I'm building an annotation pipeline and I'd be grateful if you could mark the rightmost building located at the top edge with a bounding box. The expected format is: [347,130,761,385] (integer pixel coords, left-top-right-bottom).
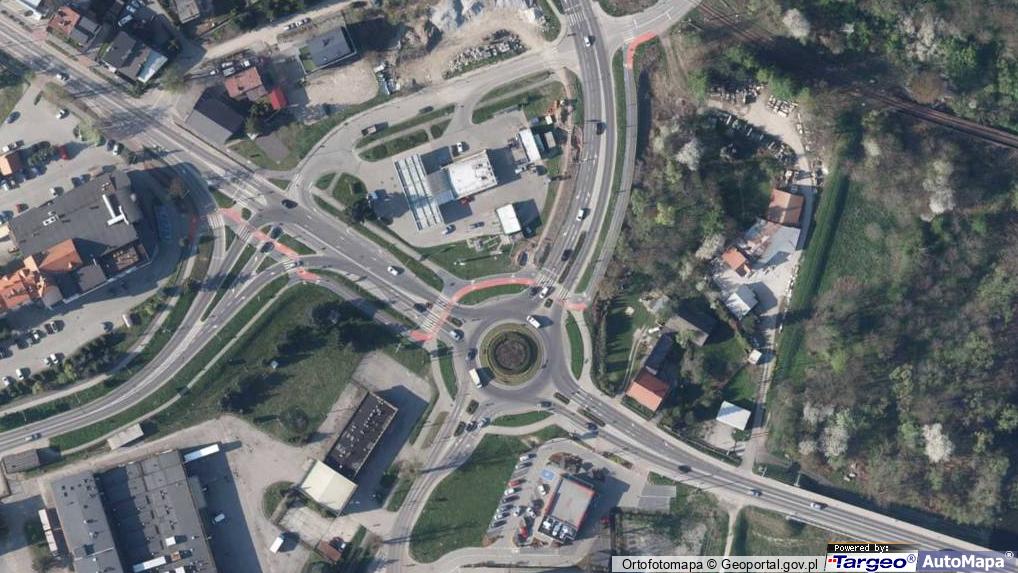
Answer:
[299,27,357,76]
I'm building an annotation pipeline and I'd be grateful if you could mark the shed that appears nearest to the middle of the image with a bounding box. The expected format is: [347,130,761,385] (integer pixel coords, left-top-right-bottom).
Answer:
[496,204,521,234]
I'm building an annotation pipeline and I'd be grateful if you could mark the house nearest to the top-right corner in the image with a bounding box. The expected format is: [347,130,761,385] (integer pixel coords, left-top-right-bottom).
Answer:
[766,188,803,225]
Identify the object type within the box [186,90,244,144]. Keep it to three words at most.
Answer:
barn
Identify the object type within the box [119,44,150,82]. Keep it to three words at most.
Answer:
house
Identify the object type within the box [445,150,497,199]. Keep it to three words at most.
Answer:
building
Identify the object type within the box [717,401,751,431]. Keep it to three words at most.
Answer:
shed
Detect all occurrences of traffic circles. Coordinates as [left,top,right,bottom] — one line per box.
[457,298,567,409]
